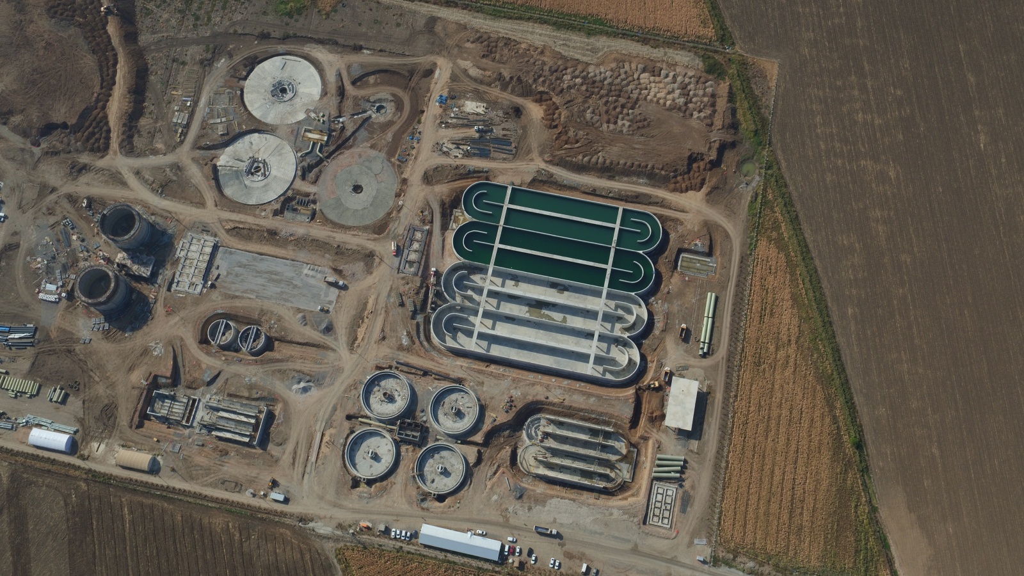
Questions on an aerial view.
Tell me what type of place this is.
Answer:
industrial area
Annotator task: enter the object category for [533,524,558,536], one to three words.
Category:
vehicle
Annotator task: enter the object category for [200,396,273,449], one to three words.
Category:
building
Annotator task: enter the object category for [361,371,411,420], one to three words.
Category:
storage tank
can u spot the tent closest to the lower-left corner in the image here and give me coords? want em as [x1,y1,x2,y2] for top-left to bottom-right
[23,427,73,456]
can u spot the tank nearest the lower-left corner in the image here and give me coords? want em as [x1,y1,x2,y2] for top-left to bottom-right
[146,390,202,426]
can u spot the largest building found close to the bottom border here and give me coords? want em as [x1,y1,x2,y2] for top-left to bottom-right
[419,521,502,561]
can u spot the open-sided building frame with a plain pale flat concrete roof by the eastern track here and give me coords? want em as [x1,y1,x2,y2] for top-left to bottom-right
[662,376,699,441]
